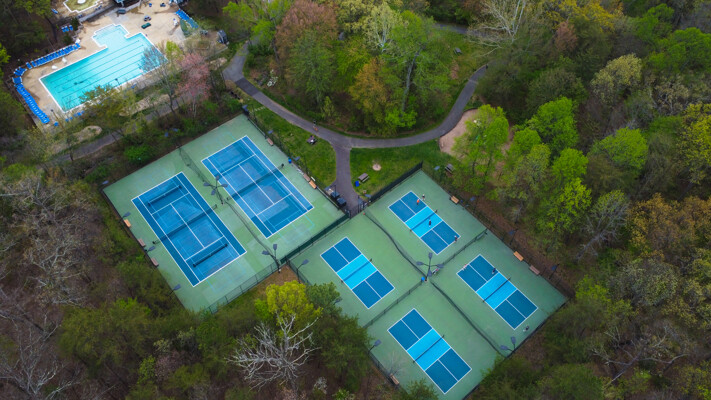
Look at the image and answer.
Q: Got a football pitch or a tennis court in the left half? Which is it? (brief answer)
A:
tennis court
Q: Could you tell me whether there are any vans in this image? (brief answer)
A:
No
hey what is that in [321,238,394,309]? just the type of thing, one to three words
sports court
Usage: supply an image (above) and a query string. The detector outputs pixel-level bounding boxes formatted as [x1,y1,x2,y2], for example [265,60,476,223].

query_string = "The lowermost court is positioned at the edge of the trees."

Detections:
[387,308,471,394]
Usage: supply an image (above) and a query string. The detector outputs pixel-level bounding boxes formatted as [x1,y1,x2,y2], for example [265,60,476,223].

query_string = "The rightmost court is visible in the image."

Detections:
[458,254,537,329]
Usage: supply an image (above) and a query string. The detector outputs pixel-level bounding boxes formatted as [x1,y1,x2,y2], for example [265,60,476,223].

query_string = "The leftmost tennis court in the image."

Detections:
[131,171,246,290]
